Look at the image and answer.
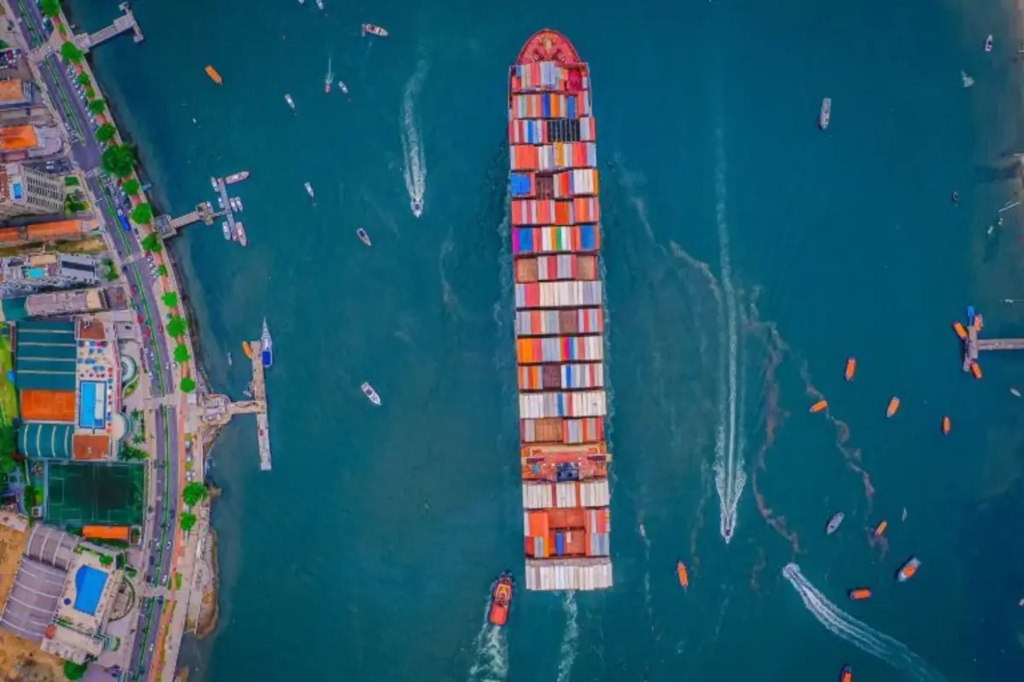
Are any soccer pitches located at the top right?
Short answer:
No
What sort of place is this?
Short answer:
port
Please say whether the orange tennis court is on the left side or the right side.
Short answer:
left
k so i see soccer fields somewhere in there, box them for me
[42,463,144,526]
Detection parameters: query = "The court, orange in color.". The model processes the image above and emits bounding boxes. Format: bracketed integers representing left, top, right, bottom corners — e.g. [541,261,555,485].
[22,390,75,421]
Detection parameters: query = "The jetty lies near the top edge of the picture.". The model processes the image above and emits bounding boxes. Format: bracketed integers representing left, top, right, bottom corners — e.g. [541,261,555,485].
[73,1,147,54]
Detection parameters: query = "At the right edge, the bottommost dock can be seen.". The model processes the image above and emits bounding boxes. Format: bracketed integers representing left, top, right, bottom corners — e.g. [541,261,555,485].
[959,306,1024,372]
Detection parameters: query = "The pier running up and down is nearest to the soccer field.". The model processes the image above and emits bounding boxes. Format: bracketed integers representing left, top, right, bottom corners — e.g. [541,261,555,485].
[230,342,273,470]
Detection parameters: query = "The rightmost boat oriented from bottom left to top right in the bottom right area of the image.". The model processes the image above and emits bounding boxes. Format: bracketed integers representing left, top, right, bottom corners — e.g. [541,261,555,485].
[899,556,922,581]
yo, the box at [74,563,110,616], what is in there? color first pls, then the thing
blue swimming pool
